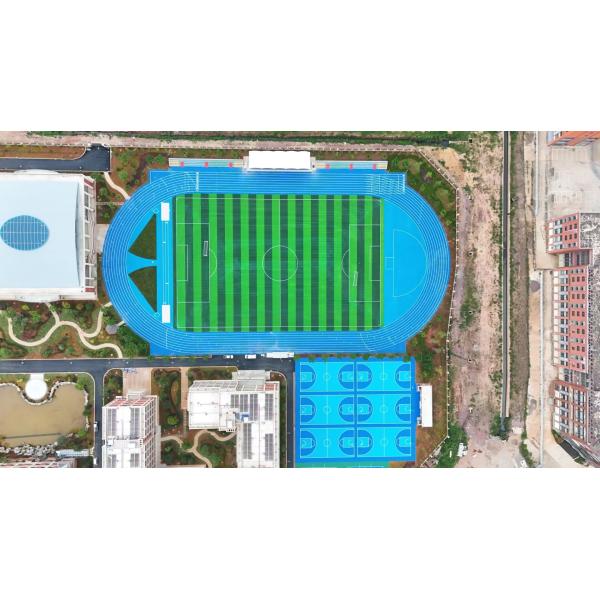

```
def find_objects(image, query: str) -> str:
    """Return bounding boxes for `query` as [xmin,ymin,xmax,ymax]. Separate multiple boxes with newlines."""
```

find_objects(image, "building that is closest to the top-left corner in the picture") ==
[0,169,98,302]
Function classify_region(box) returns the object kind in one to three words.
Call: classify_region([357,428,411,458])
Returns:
basketball court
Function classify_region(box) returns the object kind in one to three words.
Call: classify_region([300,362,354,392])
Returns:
basketball court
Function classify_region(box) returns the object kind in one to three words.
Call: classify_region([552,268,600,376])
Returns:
building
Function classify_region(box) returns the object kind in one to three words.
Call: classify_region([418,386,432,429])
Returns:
building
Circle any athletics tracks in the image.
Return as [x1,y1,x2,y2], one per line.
[101,167,449,357]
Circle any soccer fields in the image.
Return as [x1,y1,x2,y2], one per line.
[174,194,384,332]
